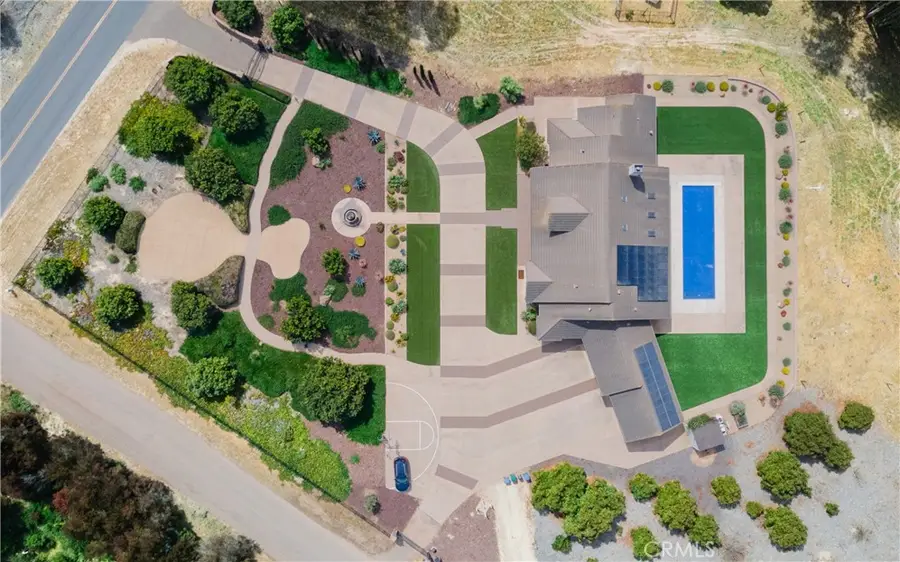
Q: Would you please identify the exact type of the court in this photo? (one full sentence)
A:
I'd say the court is a basketball court.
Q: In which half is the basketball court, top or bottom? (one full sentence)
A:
Seen from above, the basketball court lies in the bottom half of the view.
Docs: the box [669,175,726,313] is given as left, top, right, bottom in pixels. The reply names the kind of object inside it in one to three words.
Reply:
swimming pool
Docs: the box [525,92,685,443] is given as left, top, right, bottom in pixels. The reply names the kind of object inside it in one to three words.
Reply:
house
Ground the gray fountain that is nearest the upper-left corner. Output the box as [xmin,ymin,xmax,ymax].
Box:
[341,208,360,226]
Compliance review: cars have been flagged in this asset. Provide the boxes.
[394,456,410,492]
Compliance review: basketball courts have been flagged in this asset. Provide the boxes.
[387,380,439,493]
